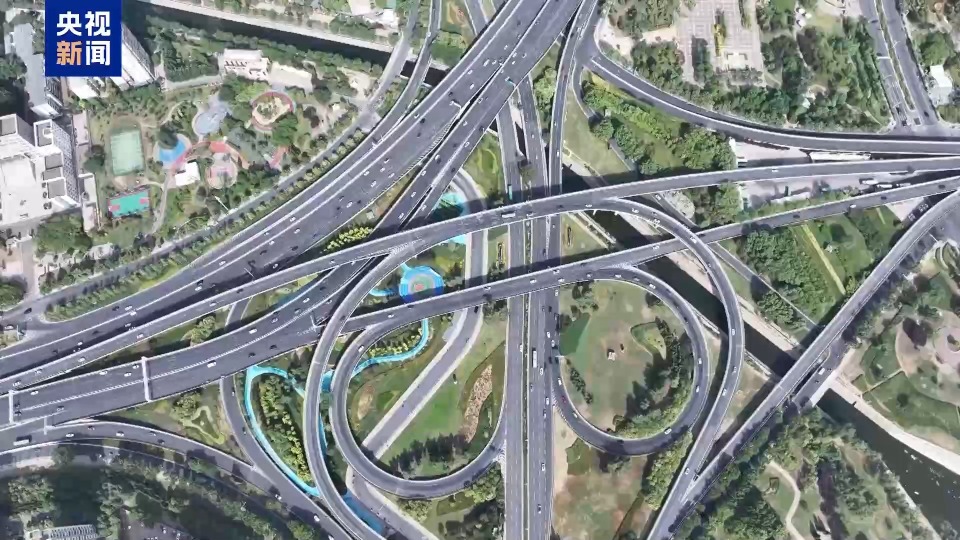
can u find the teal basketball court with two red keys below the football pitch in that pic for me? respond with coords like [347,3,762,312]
[109,188,150,218]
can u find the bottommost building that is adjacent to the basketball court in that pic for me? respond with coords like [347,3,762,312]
[83,206,102,232]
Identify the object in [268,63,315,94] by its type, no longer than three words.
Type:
building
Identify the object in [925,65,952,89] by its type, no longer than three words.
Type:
house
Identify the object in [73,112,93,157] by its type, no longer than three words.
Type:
building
